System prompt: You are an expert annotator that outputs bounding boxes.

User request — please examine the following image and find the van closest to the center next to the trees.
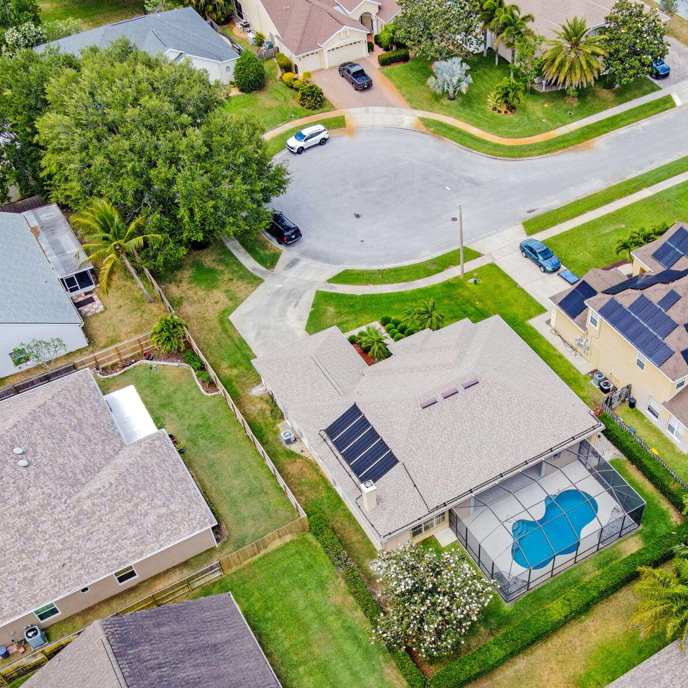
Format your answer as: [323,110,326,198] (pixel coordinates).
[259,210,305,243]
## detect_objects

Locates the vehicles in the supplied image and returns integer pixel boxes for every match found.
[259,210,305,243]
[642,54,677,79]
[285,124,330,152]
[338,59,371,88]
[518,234,561,273]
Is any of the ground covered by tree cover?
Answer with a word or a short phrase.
Yes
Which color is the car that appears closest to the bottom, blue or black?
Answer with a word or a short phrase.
blue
